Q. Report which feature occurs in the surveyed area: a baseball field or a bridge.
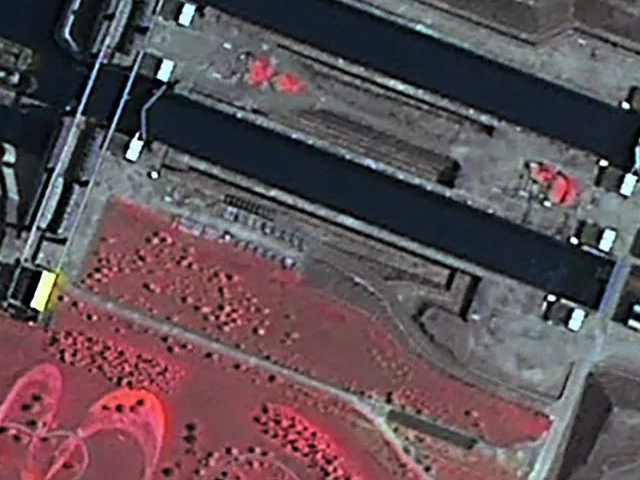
bridge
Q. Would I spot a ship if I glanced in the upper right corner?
No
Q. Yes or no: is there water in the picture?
Yes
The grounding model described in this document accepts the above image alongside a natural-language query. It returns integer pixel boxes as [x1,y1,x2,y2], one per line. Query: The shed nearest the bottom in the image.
[386,407,479,451]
